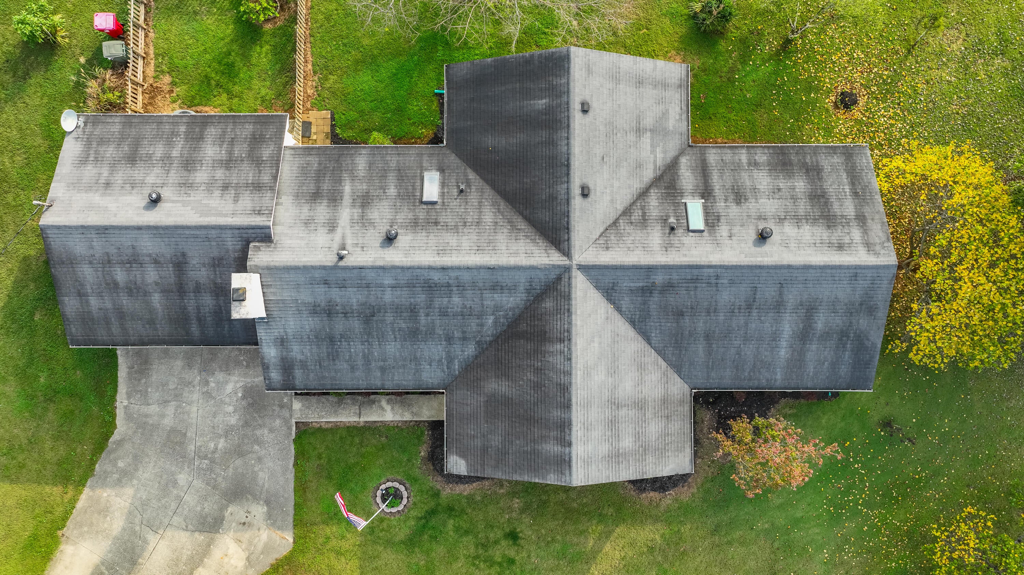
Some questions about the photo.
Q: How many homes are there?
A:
1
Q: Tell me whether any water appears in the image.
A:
No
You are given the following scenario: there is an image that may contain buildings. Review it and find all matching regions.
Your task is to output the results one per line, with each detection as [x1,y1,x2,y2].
[31,46,898,487]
